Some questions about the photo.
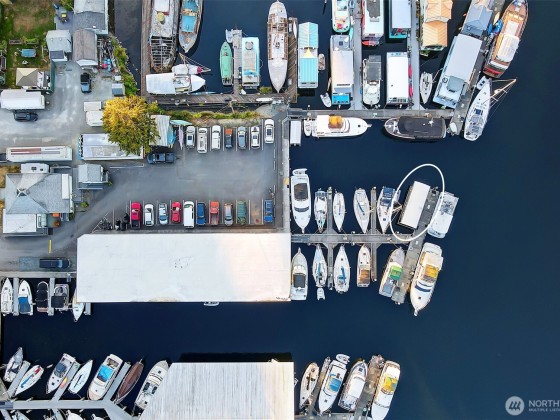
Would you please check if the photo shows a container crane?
No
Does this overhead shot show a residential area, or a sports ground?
residential area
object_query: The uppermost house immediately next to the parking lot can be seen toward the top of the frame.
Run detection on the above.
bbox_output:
[298,20,319,94]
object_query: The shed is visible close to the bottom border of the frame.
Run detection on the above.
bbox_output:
[137,351,294,420]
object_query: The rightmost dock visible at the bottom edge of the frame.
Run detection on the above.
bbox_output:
[355,355,382,416]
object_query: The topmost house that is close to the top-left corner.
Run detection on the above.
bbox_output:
[72,0,114,39]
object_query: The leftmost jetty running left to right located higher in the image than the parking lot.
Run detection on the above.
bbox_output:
[141,94,291,106]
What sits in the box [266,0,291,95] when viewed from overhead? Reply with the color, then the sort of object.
white ship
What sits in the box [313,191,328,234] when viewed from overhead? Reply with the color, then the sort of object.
white boat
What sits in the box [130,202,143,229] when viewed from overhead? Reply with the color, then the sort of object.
red vehicle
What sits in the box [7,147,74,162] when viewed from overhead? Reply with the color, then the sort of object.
white trailer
